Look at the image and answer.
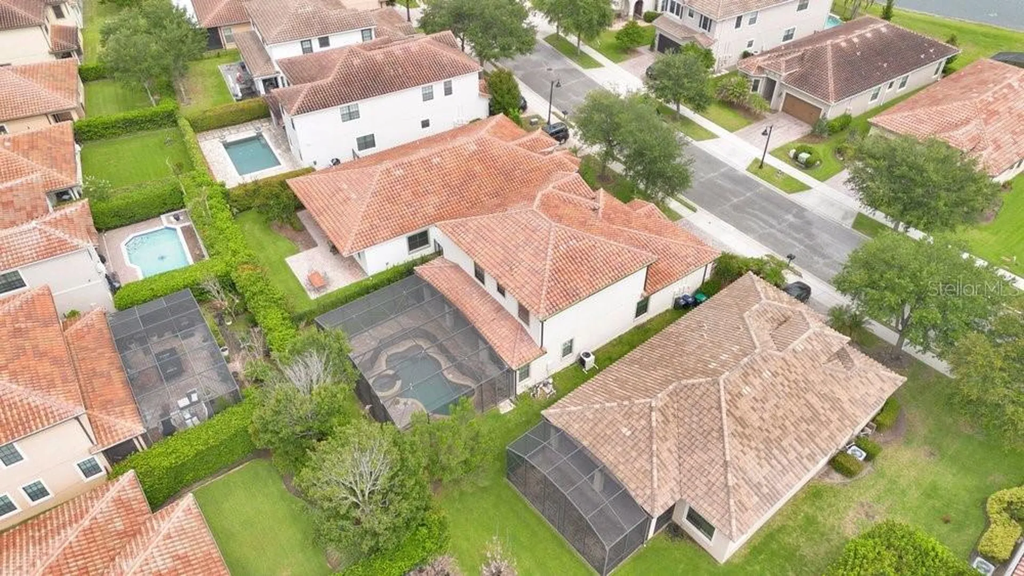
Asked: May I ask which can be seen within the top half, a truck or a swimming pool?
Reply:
swimming pool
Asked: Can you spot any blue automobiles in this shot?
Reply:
No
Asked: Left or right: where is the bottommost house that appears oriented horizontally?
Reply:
left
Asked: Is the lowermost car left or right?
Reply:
right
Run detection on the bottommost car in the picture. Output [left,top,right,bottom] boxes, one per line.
[781,280,820,308]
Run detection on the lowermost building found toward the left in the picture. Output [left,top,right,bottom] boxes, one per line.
[0,469,231,576]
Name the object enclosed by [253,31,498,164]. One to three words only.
house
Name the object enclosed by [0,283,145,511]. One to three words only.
house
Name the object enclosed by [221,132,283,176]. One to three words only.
swimming pool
